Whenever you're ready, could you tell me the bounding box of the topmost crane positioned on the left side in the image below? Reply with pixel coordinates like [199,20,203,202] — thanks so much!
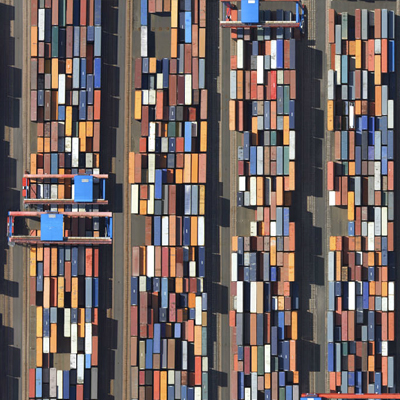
[24,171,108,212]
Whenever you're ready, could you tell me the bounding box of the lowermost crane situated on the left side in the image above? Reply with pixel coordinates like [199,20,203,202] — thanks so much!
[9,209,113,254]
